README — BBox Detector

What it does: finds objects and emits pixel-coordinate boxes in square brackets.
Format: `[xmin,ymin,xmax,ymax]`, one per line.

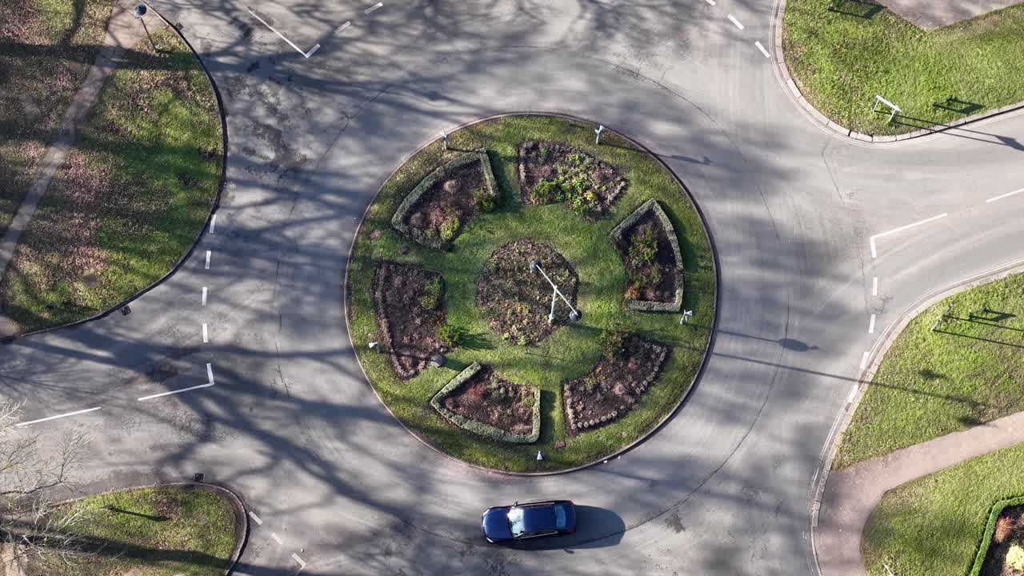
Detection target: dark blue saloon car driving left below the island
[480,500,577,543]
